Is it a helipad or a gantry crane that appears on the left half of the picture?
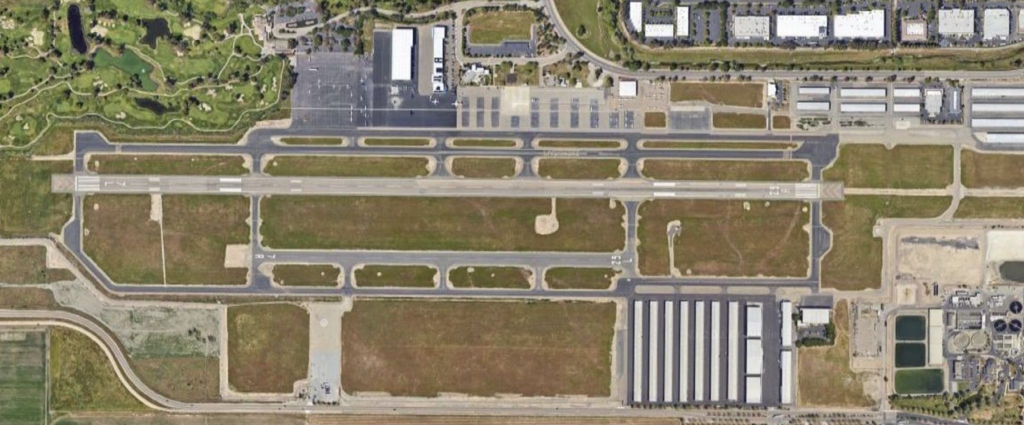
helipad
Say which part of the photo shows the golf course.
top left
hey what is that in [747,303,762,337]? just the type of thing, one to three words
hangar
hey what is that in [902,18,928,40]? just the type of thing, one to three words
building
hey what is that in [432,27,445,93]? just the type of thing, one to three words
hangar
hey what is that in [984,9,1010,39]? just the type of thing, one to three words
building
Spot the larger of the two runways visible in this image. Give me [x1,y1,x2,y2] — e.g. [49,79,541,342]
[52,174,844,200]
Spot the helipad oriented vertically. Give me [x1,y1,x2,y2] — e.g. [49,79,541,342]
[294,297,350,403]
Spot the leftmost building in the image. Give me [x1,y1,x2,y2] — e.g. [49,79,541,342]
[253,14,271,40]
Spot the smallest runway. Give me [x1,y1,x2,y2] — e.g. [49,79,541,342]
[253,251,637,277]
